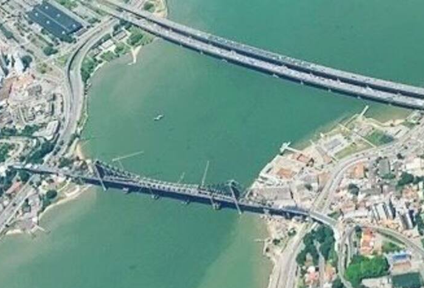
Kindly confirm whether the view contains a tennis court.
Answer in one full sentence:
No, the photo shows no tennis court.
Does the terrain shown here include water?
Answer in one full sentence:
Yes, some water is visible.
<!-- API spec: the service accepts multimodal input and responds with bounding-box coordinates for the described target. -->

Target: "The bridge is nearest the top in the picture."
[80,0,424,113]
